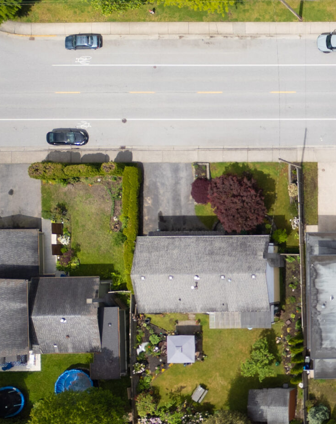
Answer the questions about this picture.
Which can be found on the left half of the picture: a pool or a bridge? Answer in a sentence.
Looking on the left half of the picture, you will find a pool.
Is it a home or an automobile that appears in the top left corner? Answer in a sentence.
What appears in the top left corner is an automobile.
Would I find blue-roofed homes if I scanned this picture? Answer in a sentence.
No, I find no blue-roofed home anywhere in the image.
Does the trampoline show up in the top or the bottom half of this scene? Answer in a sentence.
The trampoline sits in the bottom half of the picture.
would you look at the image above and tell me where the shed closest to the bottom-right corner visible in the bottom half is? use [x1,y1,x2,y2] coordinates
[246,388,294,424]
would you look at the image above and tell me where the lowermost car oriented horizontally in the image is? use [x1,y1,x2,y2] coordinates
[46,129,91,147]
